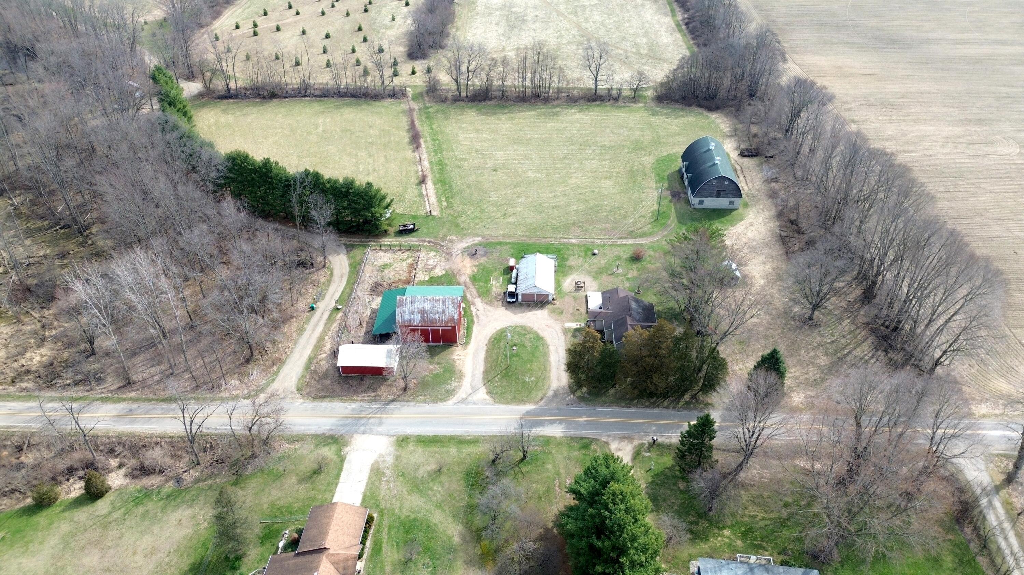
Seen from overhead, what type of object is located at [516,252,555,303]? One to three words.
building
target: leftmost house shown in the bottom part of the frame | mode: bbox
[254,500,369,575]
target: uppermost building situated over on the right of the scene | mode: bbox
[679,135,744,209]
